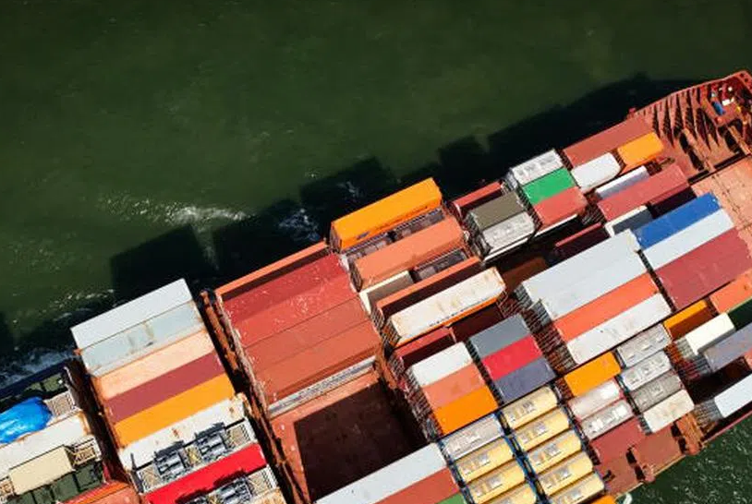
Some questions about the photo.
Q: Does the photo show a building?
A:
No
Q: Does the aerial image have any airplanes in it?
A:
No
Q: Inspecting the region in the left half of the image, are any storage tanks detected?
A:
No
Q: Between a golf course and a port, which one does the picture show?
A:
port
